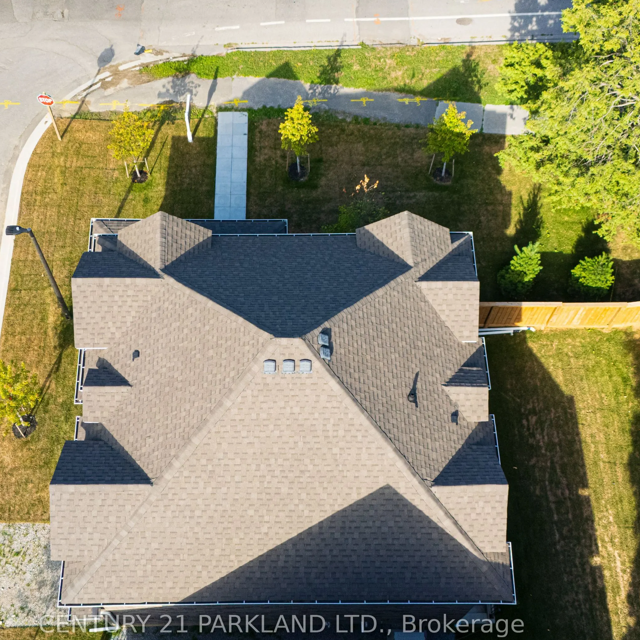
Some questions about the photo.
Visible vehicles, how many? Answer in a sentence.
The count of vehicles is 0.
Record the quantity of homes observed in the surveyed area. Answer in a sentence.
The count comes to 1 home.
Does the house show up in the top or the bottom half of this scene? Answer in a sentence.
The house sits in the bottom half of the picture.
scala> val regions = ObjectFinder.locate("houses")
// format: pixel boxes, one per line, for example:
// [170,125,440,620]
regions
[46,212,536,633]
